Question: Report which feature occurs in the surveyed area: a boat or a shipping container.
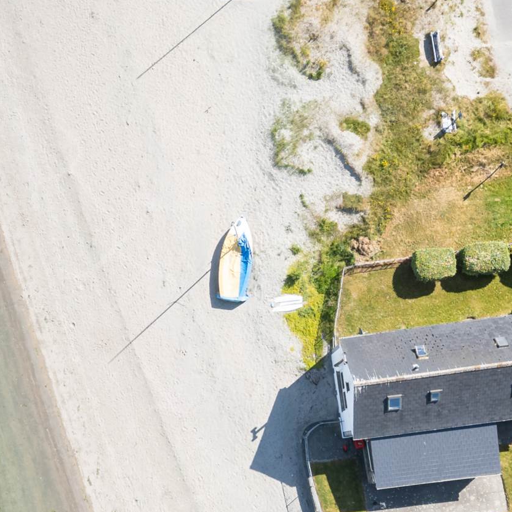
boat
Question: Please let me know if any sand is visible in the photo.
Yes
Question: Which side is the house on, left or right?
right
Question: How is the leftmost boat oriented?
up and down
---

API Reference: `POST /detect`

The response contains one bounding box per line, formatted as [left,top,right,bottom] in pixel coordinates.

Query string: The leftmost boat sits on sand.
[217,216,251,302]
